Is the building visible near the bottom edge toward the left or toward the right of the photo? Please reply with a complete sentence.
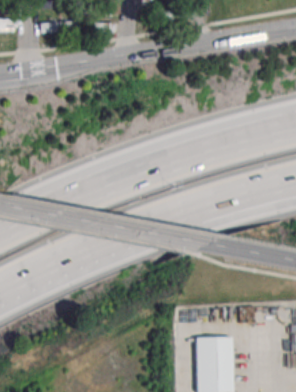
The building visible near the bottom edge sits on the right side.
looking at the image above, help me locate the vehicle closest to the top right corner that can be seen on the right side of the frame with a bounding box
[212,32,268,48]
